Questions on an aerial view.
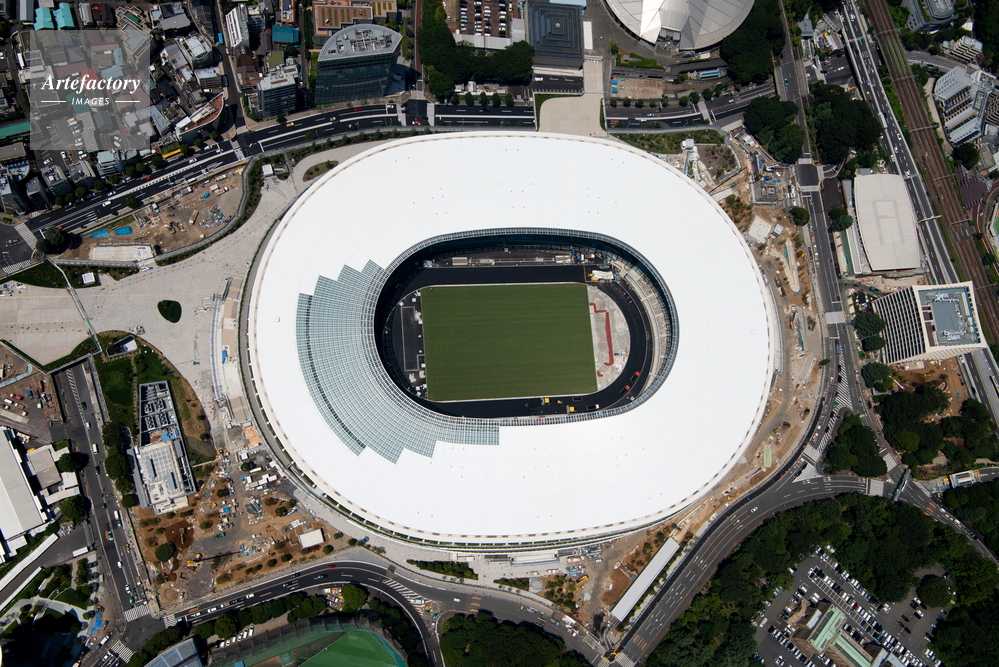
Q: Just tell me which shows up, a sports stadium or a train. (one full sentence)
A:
Looking from above, you can make out a sports stadium.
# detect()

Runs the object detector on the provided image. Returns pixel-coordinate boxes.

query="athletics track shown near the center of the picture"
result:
[373,266,647,418]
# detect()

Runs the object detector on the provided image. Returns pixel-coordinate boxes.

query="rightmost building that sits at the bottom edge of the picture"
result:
[783,599,904,667]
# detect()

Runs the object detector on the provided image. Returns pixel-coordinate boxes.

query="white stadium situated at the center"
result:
[239,129,773,558]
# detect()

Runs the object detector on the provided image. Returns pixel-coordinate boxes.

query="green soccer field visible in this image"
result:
[421,285,597,401]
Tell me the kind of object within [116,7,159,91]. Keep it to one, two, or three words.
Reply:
building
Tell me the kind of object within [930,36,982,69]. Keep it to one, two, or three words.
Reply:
building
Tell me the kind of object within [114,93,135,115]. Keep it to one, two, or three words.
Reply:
house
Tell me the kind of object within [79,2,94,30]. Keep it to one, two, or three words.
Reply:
house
